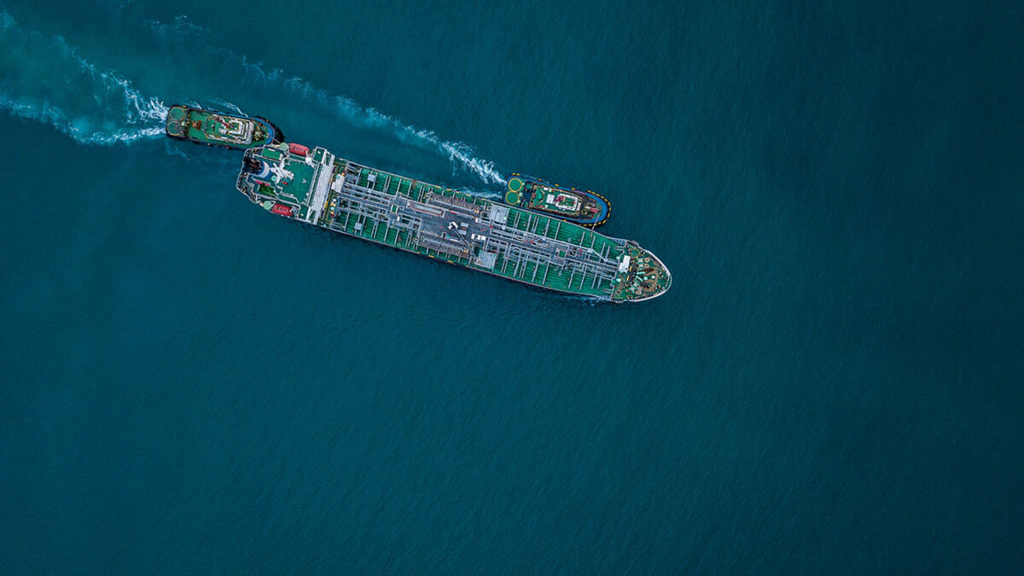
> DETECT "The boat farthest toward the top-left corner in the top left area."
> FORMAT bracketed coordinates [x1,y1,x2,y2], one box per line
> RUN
[165,105,284,153]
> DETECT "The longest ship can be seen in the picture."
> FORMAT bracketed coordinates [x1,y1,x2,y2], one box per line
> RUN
[235,143,671,302]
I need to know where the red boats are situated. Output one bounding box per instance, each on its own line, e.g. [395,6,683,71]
[274,206,294,216]
[290,145,310,156]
